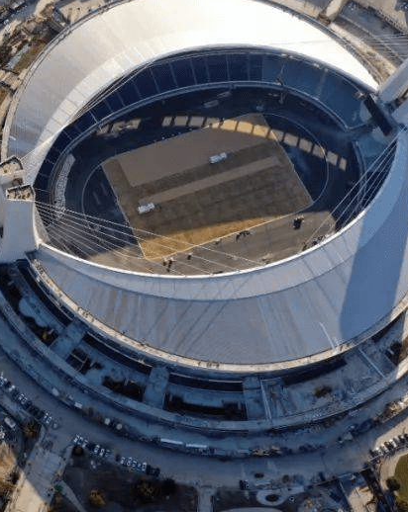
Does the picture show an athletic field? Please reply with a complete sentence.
Yes, looking at the shot, I can spot an athletic field.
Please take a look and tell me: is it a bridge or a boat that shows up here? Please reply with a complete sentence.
I can see a bridge in this picture.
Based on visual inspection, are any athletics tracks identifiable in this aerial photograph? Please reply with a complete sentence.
Yes, the picture does show an athletics track.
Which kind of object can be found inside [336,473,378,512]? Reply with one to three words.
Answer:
building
